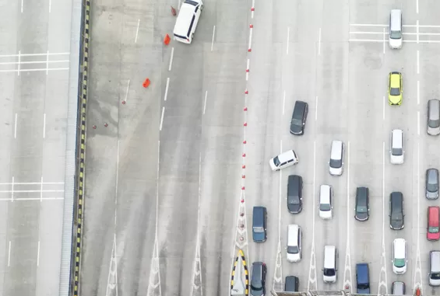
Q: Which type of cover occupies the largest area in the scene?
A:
paved ground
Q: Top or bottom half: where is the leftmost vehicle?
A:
top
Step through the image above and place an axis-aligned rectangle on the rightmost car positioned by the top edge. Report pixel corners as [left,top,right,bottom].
[388,10,404,49]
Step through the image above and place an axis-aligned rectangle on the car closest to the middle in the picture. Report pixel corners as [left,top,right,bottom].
[270,150,299,171]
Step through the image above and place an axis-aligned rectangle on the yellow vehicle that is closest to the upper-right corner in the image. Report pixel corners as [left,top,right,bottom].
[388,72,404,105]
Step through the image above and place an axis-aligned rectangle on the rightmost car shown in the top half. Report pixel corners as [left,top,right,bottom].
[425,100,440,135]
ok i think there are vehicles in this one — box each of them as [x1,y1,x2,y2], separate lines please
[250,207,268,243]
[391,240,408,275]
[391,282,405,295]
[388,10,404,49]
[284,277,299,295]
[249,262,267,296]
[290,101,309,135]
[427,251,440,286]
[388,72,404,105]
[173,0,202,45]
[317,185,333,219]
[389,130,406,164]
[322,246,338,283]
[425,100,440,135]
[354,264,371,296]
[270,150,299,171]
[425,207,440,242]
[389,193,406,230]
[284,226,302,263]
[287,176,304,214]
[327,141,344,176]
[354,188,371,221]
[424,168,440,200]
